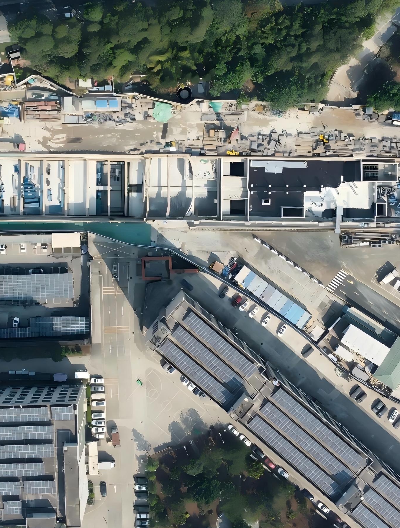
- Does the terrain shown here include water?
No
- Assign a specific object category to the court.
basketball court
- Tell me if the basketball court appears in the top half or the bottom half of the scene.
bottom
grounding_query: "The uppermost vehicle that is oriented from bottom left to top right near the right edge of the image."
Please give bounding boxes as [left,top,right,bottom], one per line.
[377,268,398,285]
